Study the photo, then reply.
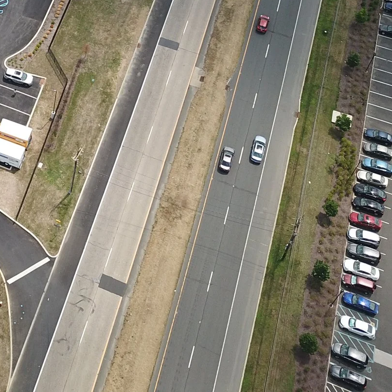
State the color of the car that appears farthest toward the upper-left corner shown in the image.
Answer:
white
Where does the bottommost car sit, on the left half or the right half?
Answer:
right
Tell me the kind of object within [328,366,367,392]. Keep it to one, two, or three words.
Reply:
car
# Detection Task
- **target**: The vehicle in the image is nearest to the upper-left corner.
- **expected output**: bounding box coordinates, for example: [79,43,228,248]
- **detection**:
[4,68,32,88]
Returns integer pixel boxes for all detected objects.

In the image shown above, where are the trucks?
[0,118,33,151]
[0,138,26,170]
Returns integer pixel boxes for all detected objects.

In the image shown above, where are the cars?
[4,68,32,88]
[340,273,377,298]
[362,129,392,148]
[341,292,379,318]
[382,5,392,15]
[348,229,379,249]
[328,366,367,392]
[378,26,392,38]
[362,143,392,163]
[337,317,375,342]
[347,213,382,234]
[346,245,381,267]
[350,197,385,219]
[361,158,392,178]
[331,344,369,371]
[356,171,388,190]
[249,135,267,164]
[255,15,270,36]
[353,184,387,206]
[343,260,379,283]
